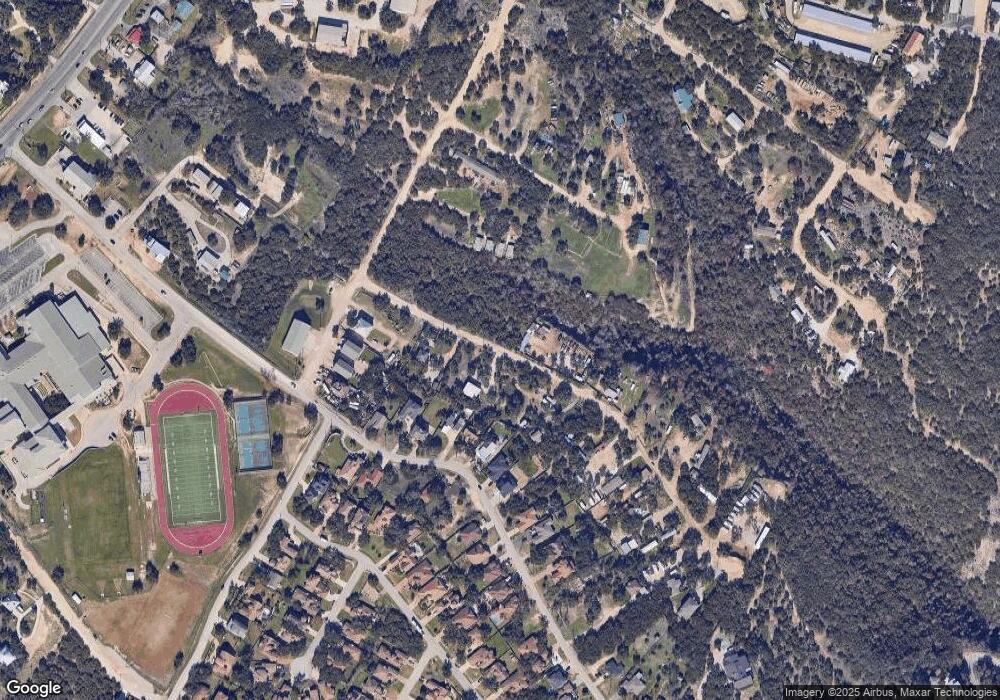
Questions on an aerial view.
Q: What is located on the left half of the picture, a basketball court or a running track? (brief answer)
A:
running track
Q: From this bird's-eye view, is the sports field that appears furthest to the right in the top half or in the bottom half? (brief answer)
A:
bottom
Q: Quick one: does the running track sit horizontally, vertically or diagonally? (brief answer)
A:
vertically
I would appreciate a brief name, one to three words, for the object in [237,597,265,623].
house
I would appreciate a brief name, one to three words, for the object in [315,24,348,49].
building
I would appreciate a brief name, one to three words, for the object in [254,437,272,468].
tennis court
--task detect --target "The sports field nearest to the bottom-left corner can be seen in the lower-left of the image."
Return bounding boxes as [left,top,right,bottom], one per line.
[70,452,130,596]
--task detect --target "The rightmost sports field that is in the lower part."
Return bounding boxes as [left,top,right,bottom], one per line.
[158,411,227,527]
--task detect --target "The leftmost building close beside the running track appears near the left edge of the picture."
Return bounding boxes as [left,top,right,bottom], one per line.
[0,296,112,478]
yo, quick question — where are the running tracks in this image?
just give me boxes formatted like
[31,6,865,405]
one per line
[149,379,236,557]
